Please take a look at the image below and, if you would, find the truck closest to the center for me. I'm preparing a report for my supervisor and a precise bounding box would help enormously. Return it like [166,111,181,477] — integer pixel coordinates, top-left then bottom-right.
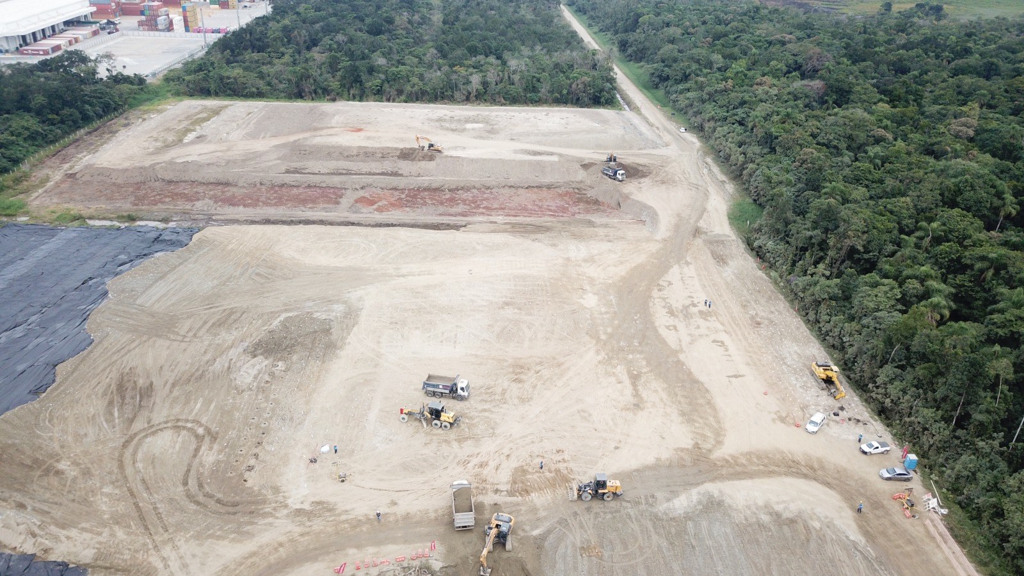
[422,375,470,402]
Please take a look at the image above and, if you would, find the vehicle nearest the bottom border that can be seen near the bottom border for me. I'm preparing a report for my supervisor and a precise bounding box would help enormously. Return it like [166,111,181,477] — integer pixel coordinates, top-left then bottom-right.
[477,510,516,575]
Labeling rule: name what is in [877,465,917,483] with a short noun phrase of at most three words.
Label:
car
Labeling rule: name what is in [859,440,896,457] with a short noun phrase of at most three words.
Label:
vehicle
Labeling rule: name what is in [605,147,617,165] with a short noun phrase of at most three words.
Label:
vehicle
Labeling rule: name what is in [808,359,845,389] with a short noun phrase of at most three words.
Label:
work vehicle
